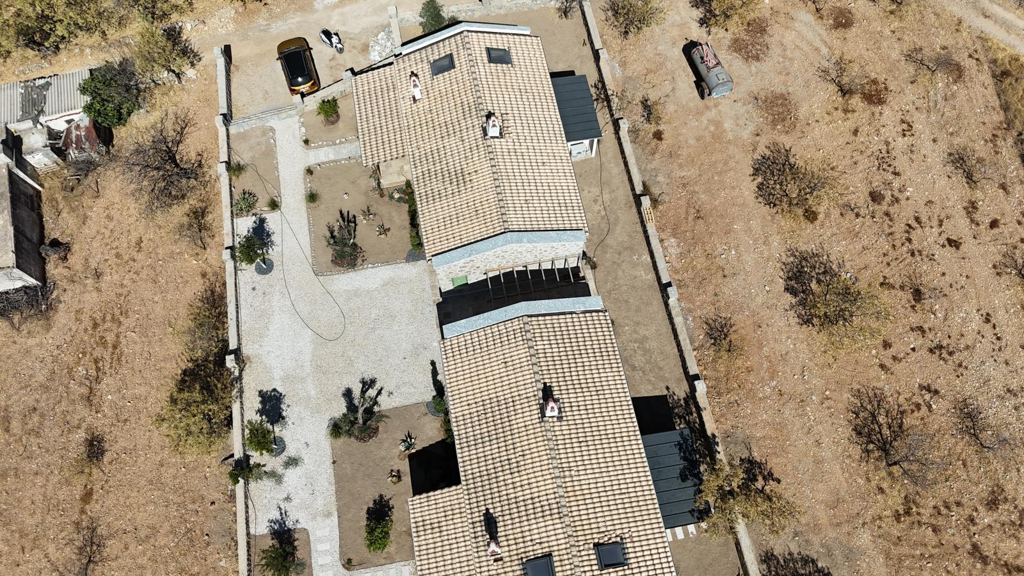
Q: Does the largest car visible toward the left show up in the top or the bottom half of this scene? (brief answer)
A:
top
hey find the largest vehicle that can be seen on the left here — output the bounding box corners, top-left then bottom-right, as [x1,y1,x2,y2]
[280,39,322,99]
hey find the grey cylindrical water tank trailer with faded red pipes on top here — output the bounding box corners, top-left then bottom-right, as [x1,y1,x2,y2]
[691,39,735,104]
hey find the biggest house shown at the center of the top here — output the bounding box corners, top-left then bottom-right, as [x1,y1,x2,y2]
[351,20,590,292]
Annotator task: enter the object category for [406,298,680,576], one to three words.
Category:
house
